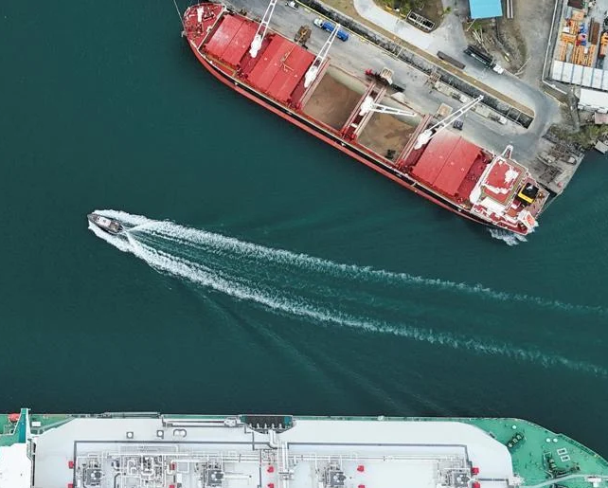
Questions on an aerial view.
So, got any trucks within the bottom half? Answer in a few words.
No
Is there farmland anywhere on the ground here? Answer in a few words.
No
